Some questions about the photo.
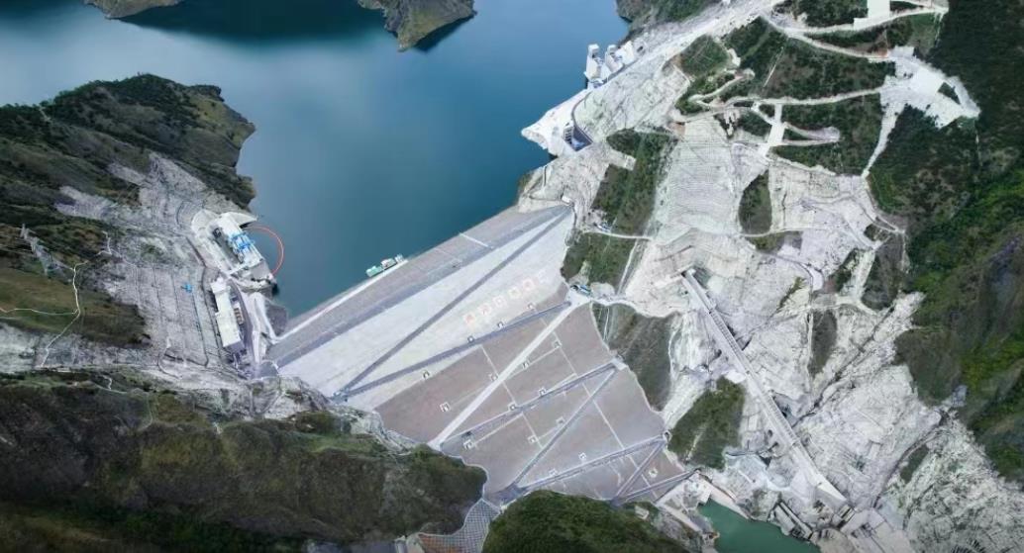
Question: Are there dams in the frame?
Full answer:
Yes, I can see a dam in this picture.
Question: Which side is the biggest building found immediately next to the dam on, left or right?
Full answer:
The biggest building found immediately next to the dam is on the left side of the image.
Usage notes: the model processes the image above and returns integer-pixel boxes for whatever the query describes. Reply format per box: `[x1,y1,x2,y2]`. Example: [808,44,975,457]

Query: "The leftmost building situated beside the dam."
[214,283,245,356]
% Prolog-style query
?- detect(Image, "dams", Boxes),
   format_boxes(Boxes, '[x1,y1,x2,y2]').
[260,200,695,517]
